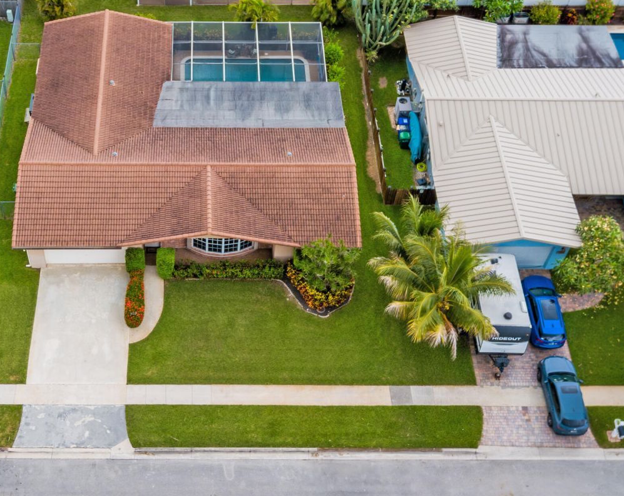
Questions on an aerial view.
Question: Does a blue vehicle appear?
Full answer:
Yes, this view includes a blue vehicle.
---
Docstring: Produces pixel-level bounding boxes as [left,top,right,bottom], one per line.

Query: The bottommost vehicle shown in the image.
[531,358,588,441]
